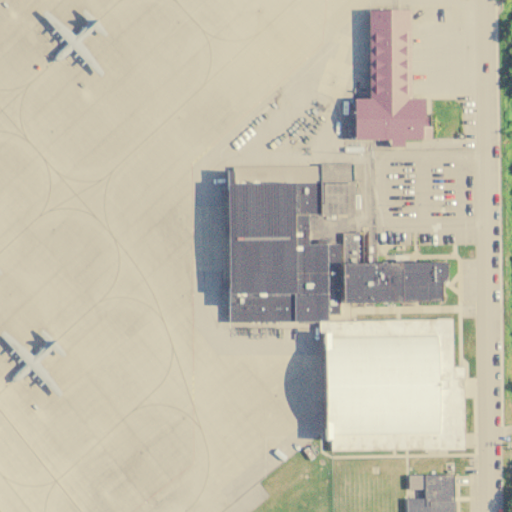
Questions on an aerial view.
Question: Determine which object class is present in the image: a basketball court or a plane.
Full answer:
The one in the frame is a plane.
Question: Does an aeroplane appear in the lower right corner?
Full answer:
No, no aeroplane can be made out in the lower right corner.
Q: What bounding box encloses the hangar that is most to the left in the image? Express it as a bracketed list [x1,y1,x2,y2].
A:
[228,166,320,320]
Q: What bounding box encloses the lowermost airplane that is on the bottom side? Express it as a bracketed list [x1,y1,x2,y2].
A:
[2,330,66,396]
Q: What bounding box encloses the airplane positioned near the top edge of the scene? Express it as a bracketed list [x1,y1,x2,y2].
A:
[44,9,109,74]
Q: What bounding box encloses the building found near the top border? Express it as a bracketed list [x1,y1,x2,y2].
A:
[355,8,434,146]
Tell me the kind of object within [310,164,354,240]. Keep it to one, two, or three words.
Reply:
building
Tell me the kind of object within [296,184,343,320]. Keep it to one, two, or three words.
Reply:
building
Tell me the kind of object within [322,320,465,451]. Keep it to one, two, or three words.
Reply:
hangar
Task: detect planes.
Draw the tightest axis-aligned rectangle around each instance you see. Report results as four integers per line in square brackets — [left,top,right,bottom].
[44,9,109,74]
[2,330,66,396]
